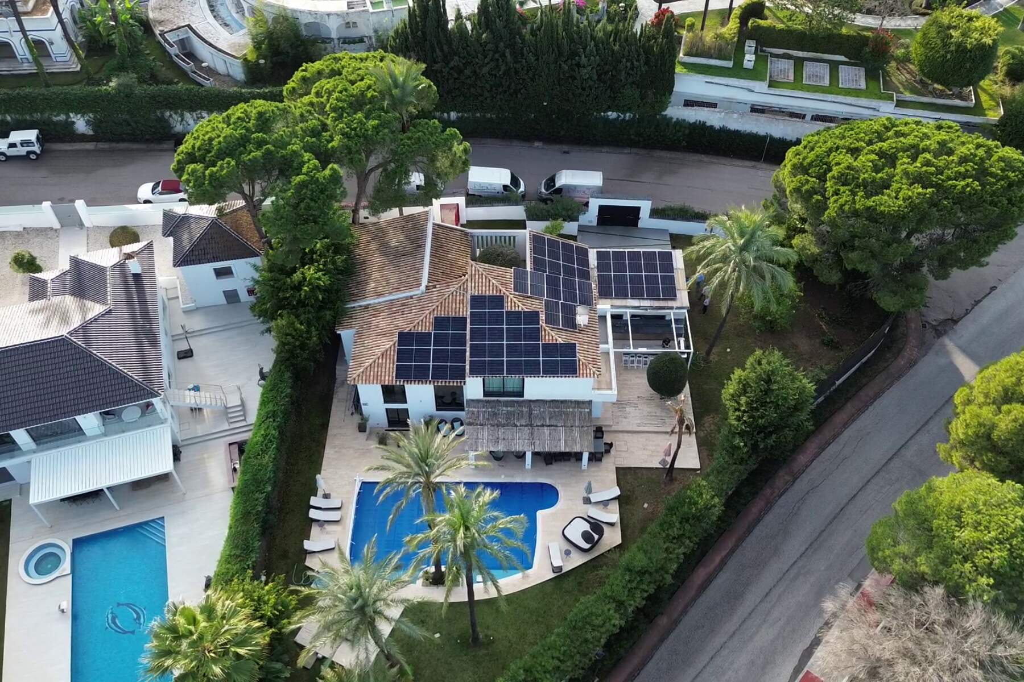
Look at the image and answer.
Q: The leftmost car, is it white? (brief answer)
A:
Yes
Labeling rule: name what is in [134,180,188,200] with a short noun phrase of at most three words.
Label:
car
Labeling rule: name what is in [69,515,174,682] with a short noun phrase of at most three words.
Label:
swimming pool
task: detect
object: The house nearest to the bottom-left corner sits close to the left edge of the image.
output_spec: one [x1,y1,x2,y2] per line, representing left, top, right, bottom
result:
[0,238,180,486]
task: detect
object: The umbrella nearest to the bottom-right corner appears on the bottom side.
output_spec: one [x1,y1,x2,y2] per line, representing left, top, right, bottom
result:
[657,446,673,468]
